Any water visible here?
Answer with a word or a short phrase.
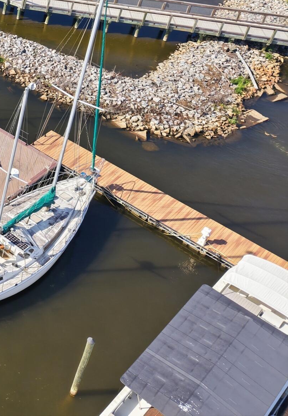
Yes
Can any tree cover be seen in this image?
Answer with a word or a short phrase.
No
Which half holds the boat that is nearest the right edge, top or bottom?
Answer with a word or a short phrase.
bottom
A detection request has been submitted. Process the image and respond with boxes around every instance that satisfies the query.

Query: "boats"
[86,252,288,416]
[0,0,108,305]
